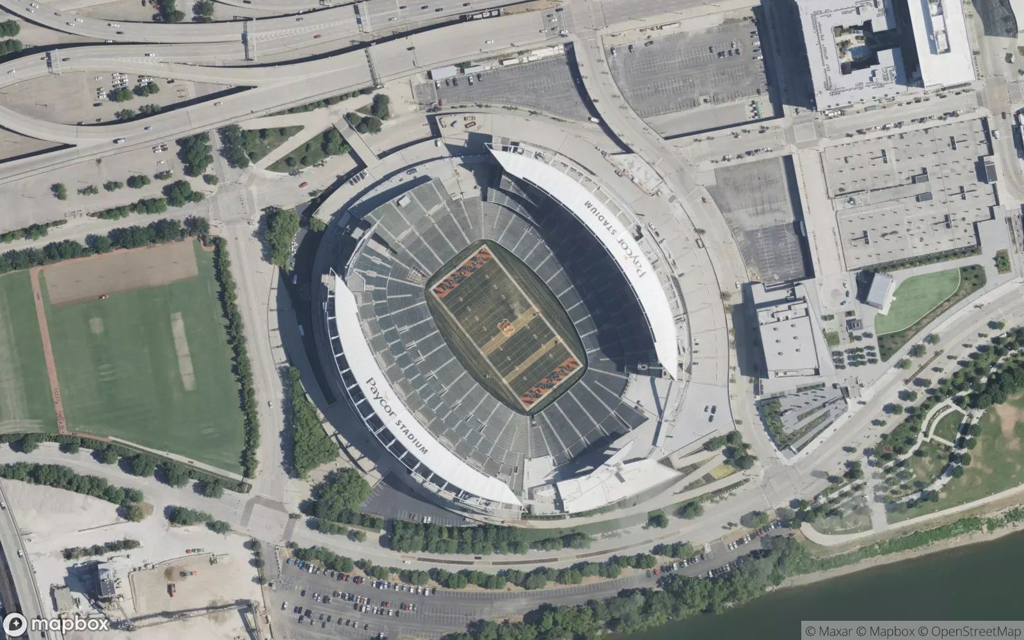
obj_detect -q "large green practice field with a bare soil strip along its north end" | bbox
[40,238,245,477]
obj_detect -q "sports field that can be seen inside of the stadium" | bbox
[425,241,587,416]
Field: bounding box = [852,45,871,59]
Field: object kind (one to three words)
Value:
swimming pool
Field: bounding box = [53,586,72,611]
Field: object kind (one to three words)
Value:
building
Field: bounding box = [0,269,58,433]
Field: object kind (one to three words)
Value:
sports field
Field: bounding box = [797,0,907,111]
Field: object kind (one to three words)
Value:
building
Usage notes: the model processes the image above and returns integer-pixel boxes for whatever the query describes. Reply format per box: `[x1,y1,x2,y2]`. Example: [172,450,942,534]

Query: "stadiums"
[320,137,691,520]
